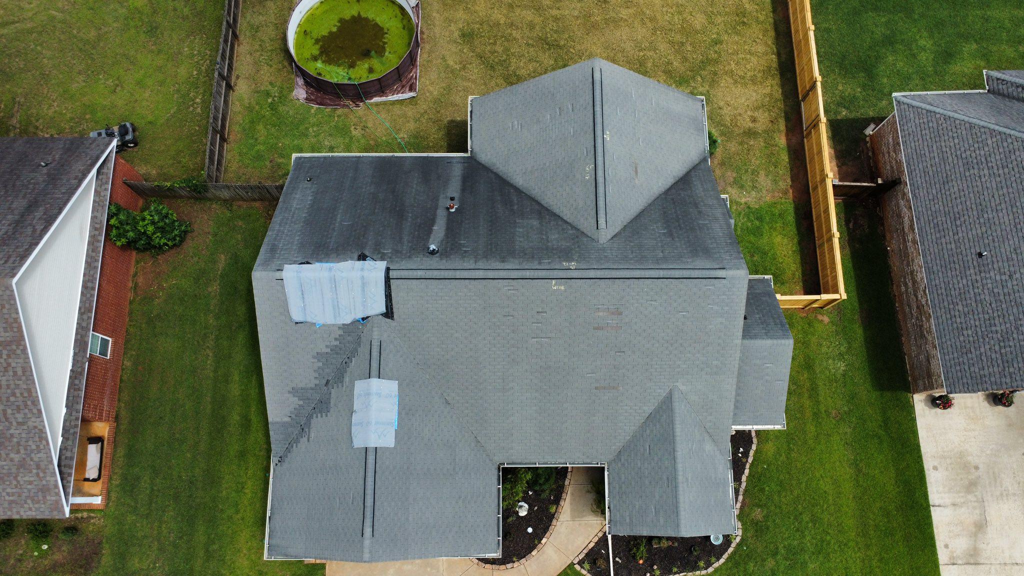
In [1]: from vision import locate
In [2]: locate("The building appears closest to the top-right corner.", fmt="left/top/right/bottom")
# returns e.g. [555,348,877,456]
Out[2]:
[872,68,1024,394]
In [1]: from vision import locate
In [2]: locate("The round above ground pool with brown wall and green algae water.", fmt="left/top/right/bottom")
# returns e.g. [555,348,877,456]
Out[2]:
[288,0,424,97]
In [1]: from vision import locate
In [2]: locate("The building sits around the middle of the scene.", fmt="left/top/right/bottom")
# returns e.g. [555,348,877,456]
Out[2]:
[252,56,795,564]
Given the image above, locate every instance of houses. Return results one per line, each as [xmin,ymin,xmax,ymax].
[252,56,795,564]
[872,68,1024,394]
[0,139,145,517]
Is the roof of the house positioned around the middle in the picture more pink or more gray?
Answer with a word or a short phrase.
gray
